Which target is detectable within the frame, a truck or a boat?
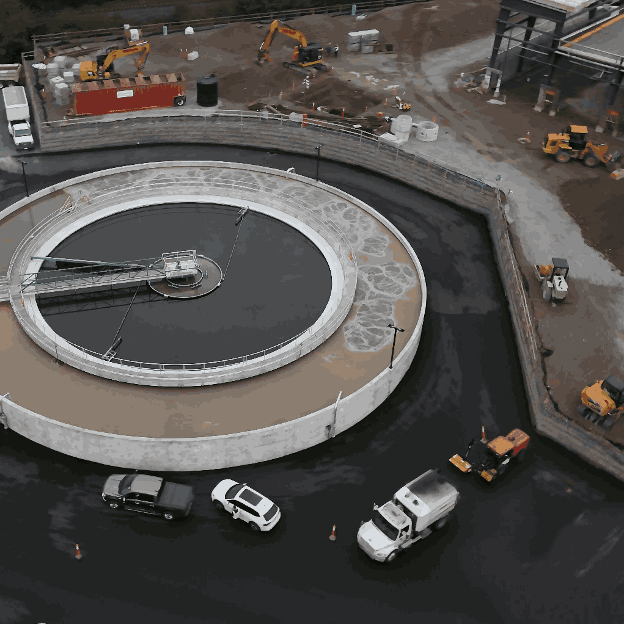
truck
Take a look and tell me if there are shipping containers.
Yes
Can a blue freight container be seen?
No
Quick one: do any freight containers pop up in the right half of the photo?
No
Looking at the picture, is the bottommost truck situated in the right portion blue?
No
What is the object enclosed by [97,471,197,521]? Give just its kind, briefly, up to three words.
truck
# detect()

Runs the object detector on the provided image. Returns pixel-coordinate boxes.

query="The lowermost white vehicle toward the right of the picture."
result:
[355,459,466,566]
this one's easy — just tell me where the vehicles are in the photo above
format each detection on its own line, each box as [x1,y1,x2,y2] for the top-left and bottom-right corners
[458,431,534,483]
[208,481,284,535]
[0,60,22,88]
[355,459,466,566]
[544,127,616,167]
[97,471,197,521]
[572,380,624,432]
[1,88,31,136]
[72,38,150,80]
[255,15,329,78]
[538,251,571,292]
